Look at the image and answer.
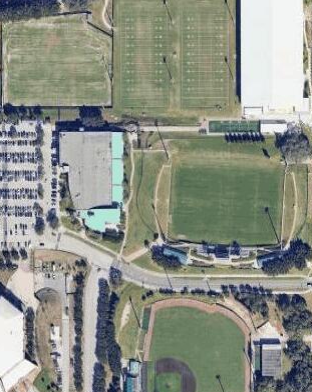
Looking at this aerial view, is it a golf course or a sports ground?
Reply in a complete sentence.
The area seen from above is a sports ground.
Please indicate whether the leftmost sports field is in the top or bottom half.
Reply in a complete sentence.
It is in the top half that the leftmost sports field appears.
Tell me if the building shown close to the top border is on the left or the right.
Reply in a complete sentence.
You can find the building shown close to the top border on the right side of the picture.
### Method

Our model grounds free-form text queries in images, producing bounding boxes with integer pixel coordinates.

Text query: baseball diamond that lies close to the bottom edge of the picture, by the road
[142,299,251,392]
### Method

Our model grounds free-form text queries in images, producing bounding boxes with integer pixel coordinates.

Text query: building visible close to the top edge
[240,0,302,112]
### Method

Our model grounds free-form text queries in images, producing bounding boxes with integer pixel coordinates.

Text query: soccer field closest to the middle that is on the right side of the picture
[163,140,284,245]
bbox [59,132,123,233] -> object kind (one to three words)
building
